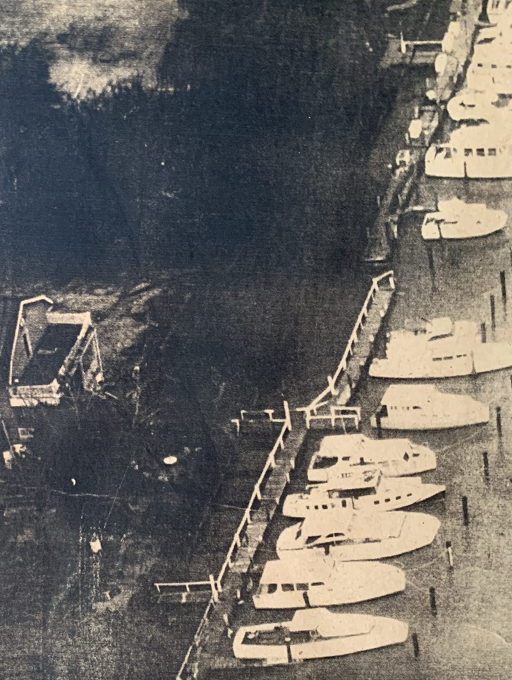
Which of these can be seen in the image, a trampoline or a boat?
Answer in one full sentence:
This aerial view contains a boat.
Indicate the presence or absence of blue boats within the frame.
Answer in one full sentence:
No, the picture doesn't show any blue boat.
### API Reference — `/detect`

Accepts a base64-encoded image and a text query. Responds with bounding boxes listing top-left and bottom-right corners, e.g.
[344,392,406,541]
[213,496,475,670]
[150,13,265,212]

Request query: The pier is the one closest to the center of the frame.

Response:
[314,288,399,427]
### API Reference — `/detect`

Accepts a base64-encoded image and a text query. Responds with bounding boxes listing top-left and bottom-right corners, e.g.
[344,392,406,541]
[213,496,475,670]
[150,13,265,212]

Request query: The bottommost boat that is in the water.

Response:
[234,614,407,666]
